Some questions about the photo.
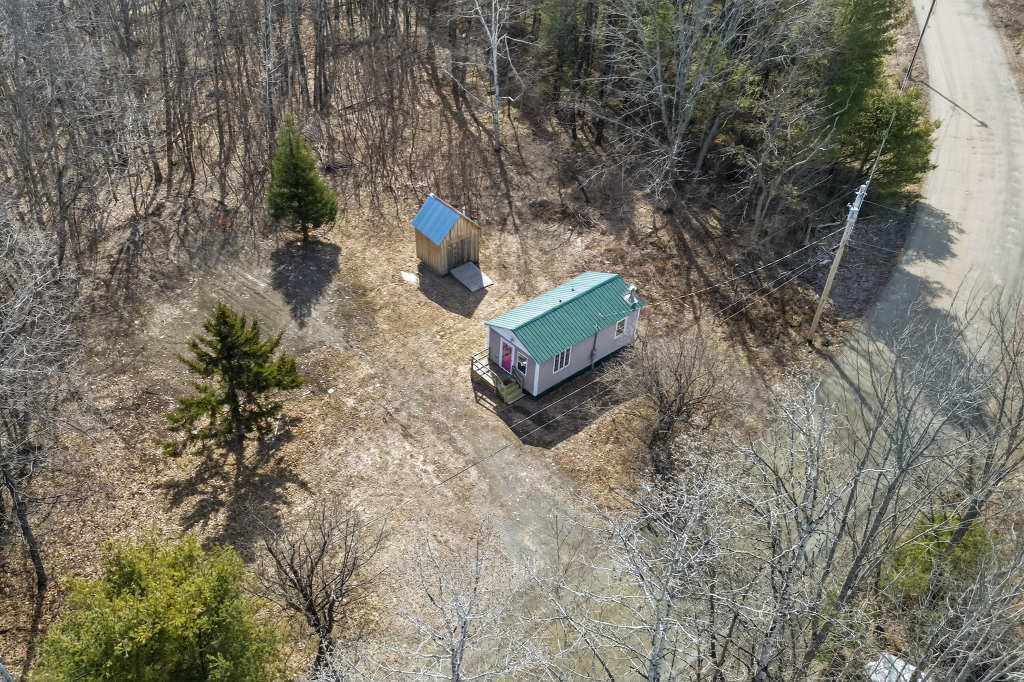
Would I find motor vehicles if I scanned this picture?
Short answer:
No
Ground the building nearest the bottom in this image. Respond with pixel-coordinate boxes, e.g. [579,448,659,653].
[484,271,645,400]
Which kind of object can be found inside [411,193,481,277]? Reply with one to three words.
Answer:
shed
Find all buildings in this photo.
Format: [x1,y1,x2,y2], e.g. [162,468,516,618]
[484,271,645,400]
[411,193,481,277]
